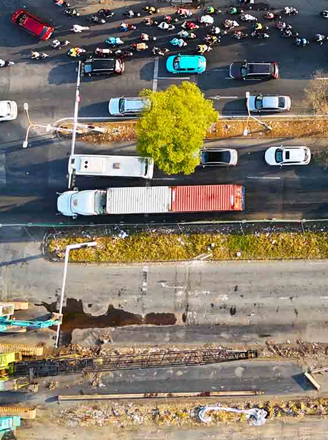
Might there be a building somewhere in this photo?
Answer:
No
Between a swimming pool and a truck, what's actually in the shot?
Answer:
truck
